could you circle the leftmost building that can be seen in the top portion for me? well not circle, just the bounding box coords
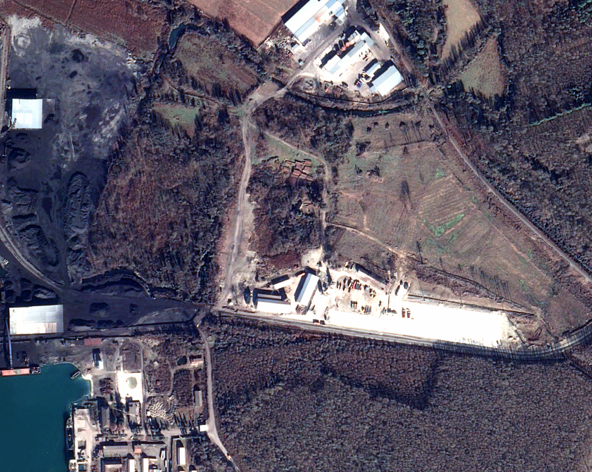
[10,98,42,128]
